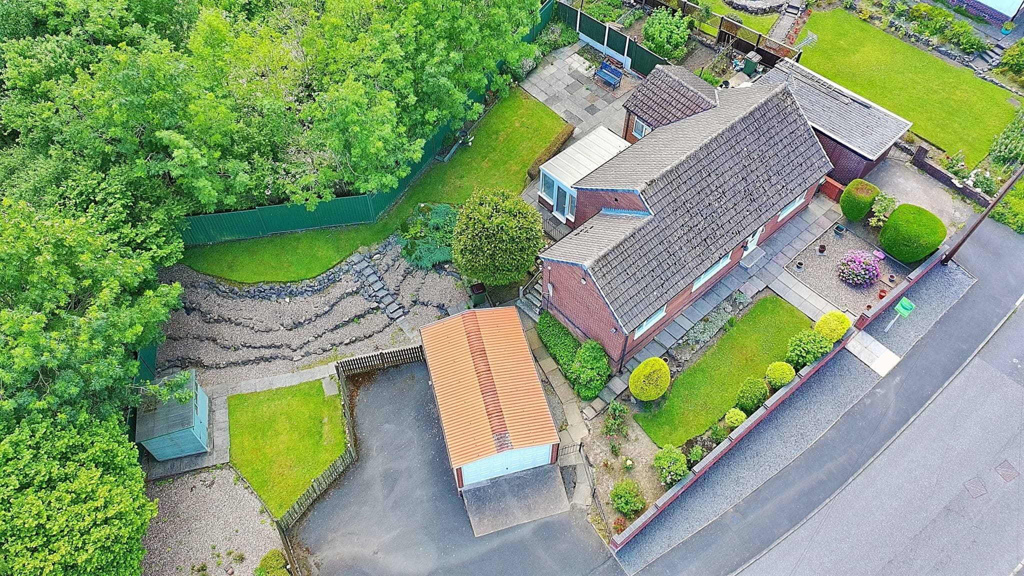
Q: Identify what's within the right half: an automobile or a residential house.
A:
residential house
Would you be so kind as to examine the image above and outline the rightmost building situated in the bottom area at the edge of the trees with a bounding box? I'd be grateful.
[420,306,559,489]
